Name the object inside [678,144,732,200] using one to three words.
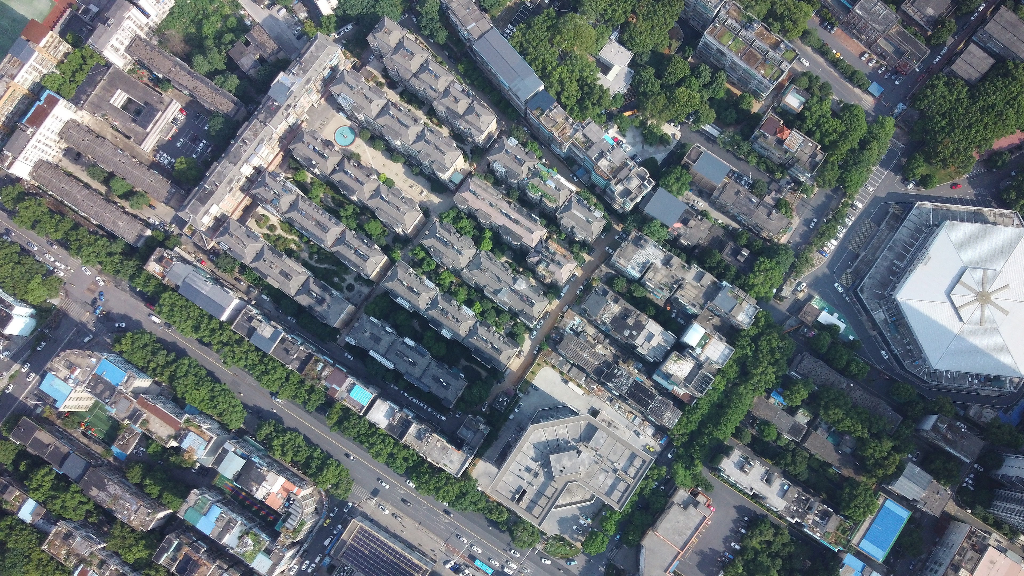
building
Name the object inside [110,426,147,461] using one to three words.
house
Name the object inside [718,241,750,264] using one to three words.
building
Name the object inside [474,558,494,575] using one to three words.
vehicle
